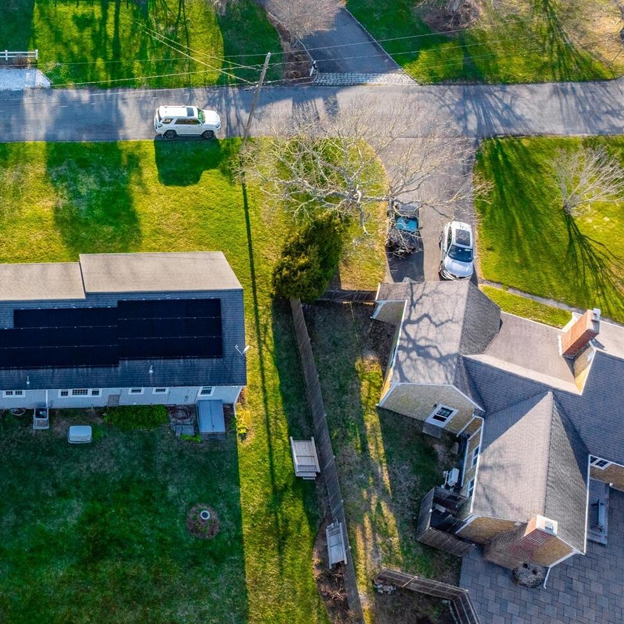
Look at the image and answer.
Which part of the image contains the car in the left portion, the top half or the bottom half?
top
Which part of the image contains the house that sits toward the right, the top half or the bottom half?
bottom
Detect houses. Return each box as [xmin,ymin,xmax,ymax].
[0,251,249,415]
[371,278,624,580]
